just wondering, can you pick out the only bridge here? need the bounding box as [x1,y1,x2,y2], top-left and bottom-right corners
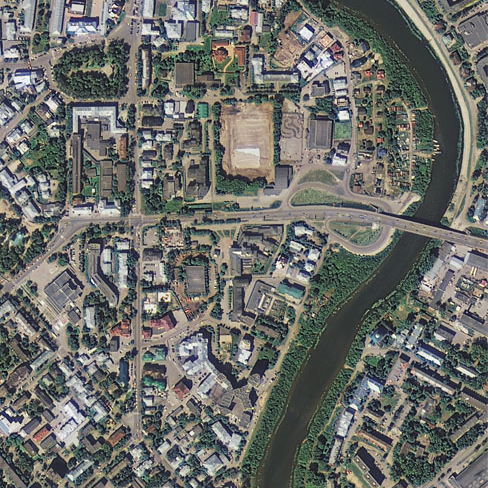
[308,207,488,251]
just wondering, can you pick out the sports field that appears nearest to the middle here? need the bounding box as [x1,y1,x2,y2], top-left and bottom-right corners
[221,102,274,182]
